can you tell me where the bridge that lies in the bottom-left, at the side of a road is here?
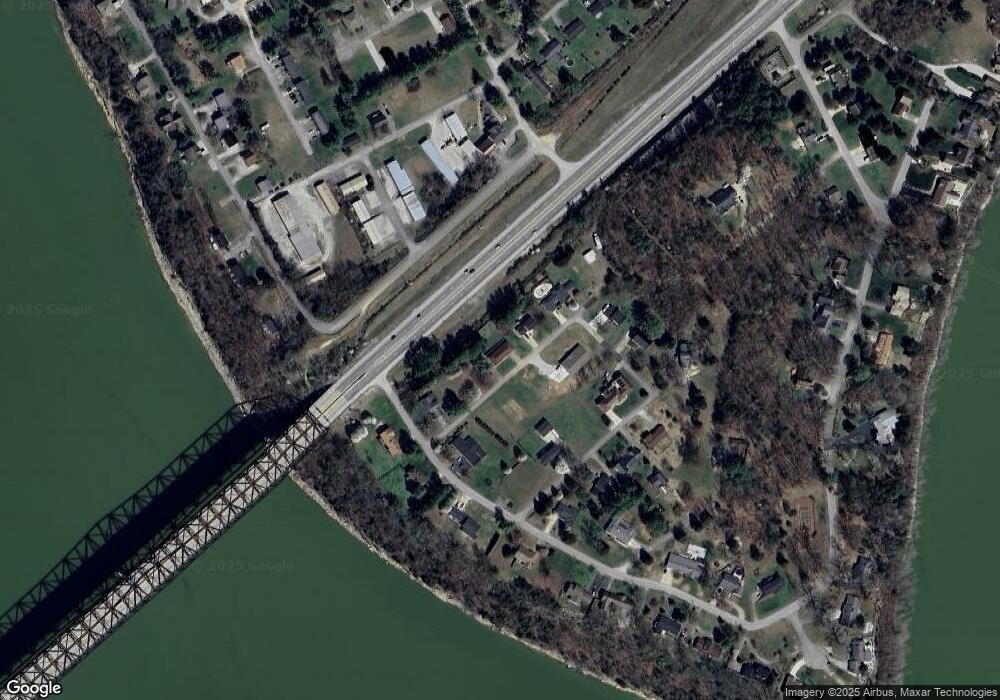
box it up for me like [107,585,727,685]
[0,396,333,700]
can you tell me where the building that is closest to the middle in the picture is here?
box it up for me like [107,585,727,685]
[485,339,512,365]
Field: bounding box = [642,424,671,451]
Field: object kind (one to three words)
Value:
house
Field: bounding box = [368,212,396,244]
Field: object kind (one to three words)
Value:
building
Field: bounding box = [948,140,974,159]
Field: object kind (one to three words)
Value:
house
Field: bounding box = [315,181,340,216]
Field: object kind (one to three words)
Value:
building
